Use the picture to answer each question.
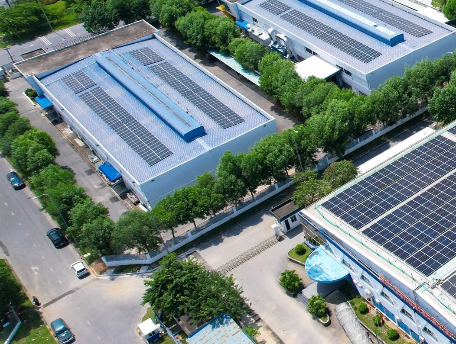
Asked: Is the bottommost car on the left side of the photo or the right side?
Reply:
left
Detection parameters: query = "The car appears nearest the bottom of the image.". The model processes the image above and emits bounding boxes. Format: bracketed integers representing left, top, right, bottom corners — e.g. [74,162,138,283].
[45,312,76,344]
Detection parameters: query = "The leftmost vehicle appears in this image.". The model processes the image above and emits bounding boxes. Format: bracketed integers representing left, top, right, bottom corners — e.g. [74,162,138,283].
[2,169,25,188]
